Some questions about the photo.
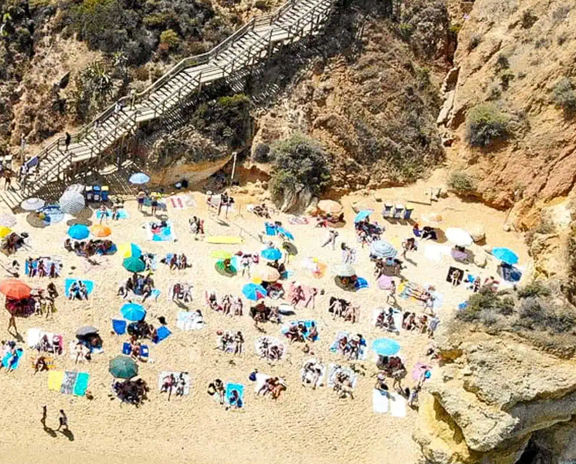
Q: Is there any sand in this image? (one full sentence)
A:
Yes, there is sand in the image.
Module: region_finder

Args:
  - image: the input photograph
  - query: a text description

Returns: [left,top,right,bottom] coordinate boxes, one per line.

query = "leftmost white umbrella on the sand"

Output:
[0,216,18,231]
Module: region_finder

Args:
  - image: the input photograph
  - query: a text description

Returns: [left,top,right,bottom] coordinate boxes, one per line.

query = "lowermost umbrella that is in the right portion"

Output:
[359,338,404,379]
